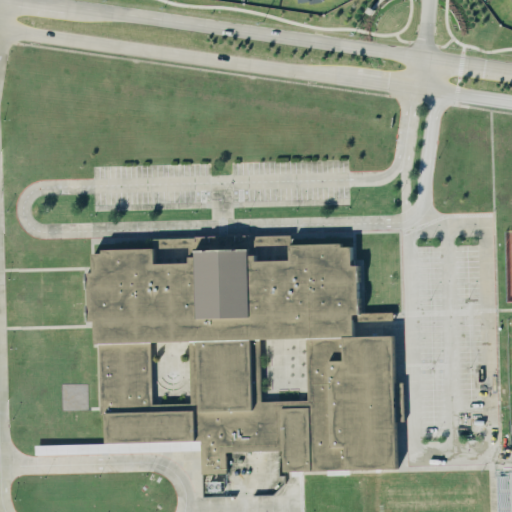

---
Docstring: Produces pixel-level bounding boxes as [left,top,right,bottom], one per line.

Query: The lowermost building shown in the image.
[86,236,406,476]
